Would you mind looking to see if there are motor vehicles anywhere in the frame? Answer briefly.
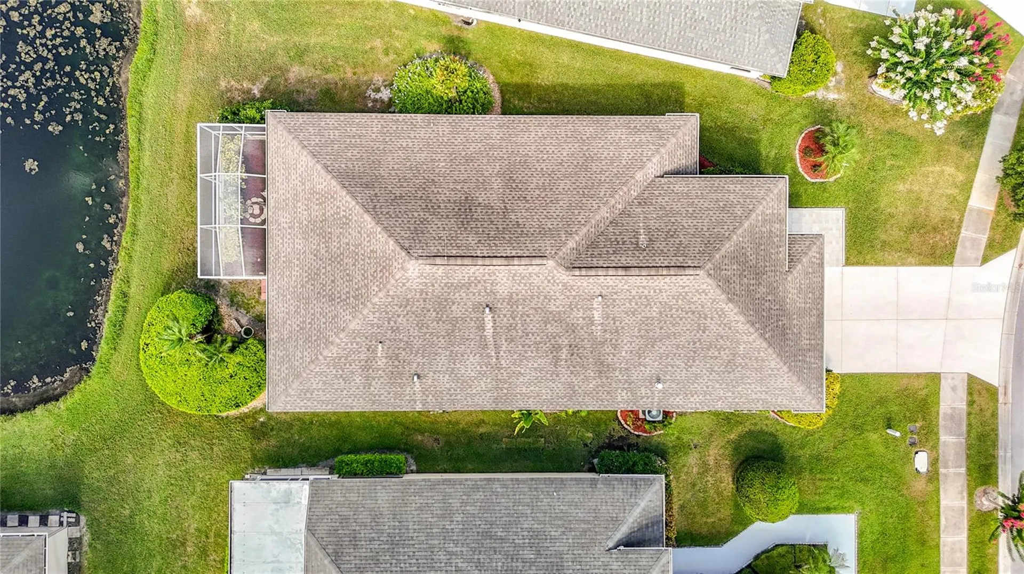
No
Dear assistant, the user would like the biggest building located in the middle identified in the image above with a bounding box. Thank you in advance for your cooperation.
[264,110,827,414]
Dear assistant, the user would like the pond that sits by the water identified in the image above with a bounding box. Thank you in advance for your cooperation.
[0,0,128,392]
